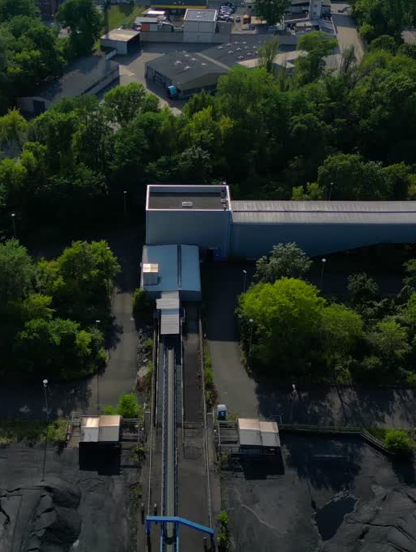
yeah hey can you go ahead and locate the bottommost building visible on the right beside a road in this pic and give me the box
[236,418,280,456]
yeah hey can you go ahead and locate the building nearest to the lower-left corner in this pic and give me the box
[82,413,122,451]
